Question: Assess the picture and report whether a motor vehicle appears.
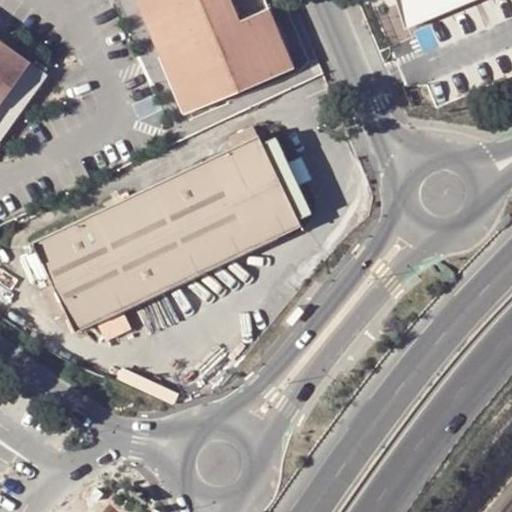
Yes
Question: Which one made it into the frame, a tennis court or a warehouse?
warehouse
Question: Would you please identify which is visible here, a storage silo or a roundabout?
roundabout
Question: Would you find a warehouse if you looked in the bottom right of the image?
No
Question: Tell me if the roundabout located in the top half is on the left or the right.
right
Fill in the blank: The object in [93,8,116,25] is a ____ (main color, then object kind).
gray car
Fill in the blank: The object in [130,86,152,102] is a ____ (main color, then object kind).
gray car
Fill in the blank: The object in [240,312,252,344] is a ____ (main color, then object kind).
white vehicle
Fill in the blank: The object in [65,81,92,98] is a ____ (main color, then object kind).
white vehicle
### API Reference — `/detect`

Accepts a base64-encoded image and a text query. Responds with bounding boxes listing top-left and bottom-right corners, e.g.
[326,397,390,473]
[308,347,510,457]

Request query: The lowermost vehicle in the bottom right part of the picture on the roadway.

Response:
[446,412,467,434]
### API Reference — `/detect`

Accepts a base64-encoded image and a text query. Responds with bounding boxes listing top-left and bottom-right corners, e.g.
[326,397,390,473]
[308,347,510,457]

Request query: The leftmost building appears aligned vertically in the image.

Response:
[0,40,48,147]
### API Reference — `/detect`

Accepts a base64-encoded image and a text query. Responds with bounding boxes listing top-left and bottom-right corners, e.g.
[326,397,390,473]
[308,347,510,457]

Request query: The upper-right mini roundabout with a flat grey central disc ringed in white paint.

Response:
[390,140,496,246]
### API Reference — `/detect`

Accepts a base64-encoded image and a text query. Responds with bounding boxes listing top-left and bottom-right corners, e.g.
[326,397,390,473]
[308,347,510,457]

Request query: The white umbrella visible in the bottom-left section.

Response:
[90,487,105,502]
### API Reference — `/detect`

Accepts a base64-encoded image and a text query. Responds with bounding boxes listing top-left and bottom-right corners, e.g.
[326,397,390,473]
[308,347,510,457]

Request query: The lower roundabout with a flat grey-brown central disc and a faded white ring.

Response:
[165,410,273,512]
